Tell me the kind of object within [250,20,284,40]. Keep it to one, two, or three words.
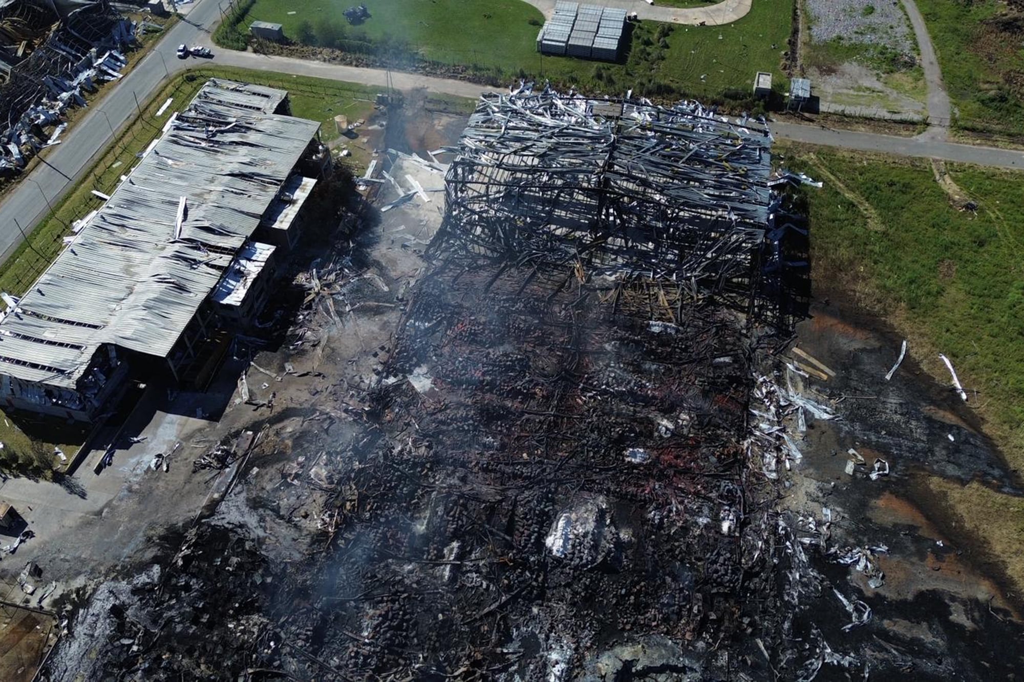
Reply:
shed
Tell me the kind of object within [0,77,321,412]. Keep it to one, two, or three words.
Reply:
warehouse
